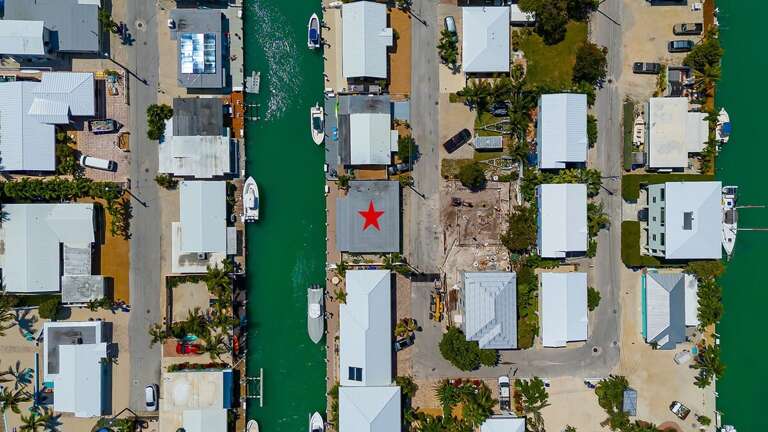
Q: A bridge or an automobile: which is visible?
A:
automobile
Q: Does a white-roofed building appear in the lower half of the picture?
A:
Yes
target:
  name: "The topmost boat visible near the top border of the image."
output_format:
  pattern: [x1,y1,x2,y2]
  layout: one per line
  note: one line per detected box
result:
[308,14,326,52]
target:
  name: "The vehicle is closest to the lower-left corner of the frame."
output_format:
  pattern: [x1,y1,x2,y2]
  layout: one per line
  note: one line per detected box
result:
[146,382,160,410]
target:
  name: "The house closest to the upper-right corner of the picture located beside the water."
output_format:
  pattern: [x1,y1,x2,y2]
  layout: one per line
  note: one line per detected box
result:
[644,97,710,173]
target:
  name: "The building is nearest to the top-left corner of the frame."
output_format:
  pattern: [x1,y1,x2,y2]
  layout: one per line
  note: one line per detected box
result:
[0,0,105,56]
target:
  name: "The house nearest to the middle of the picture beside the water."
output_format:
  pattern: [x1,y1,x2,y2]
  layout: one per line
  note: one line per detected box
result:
[337,181,400,252]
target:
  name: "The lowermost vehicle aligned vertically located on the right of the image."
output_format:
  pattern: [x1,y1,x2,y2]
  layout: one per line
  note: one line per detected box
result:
[498,374,512,410]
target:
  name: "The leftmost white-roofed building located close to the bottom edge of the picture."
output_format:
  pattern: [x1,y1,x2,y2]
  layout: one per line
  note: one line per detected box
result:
[43,320,106,416]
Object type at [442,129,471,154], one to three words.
car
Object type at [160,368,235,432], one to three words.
house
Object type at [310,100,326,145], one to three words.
boat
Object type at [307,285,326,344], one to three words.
boat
